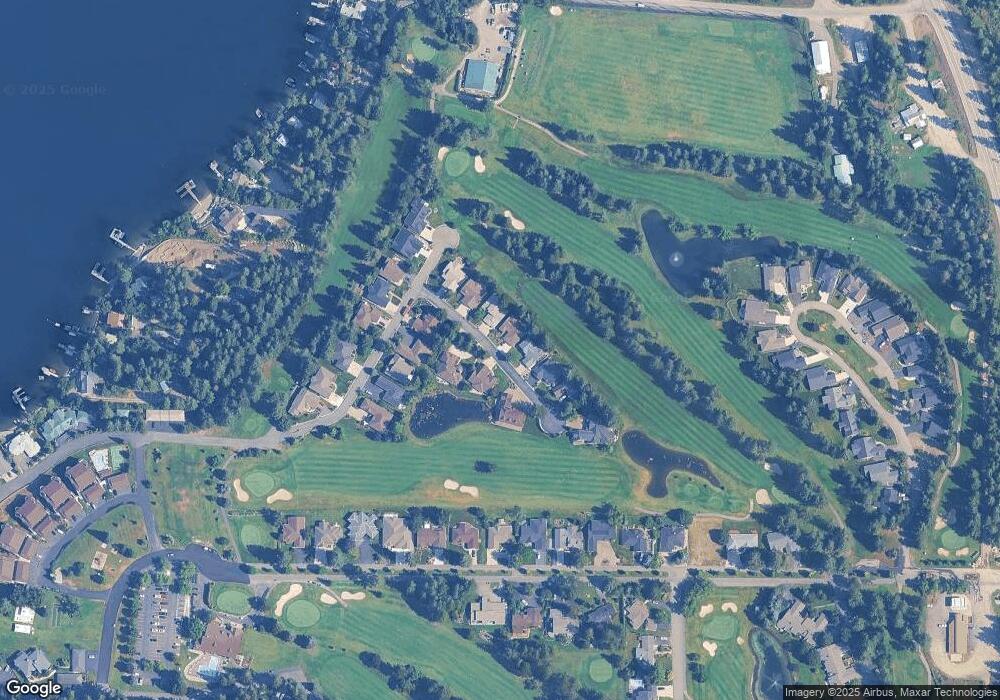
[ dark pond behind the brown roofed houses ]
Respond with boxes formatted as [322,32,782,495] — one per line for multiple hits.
[410,393,491,439]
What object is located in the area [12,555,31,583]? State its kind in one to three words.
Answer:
building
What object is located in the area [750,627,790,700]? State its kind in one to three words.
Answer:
pond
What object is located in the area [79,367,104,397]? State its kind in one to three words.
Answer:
house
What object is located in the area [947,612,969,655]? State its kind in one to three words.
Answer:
barn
